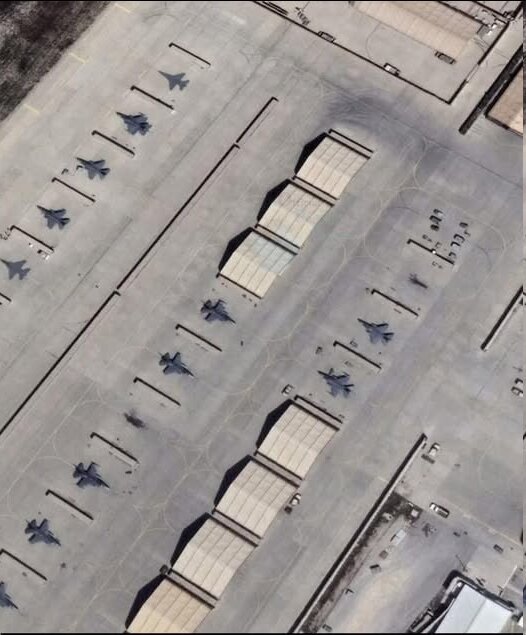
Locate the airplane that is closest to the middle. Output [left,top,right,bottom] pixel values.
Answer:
[200,302,236,325]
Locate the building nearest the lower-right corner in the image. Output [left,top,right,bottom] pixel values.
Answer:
[434,584,513,635]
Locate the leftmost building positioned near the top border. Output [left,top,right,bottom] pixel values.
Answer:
[337,0,484,62]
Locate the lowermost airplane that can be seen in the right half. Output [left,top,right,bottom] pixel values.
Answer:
[316,370,354,394]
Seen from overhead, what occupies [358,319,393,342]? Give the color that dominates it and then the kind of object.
gray airplane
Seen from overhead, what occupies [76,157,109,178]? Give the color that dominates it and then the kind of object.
gray airplane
